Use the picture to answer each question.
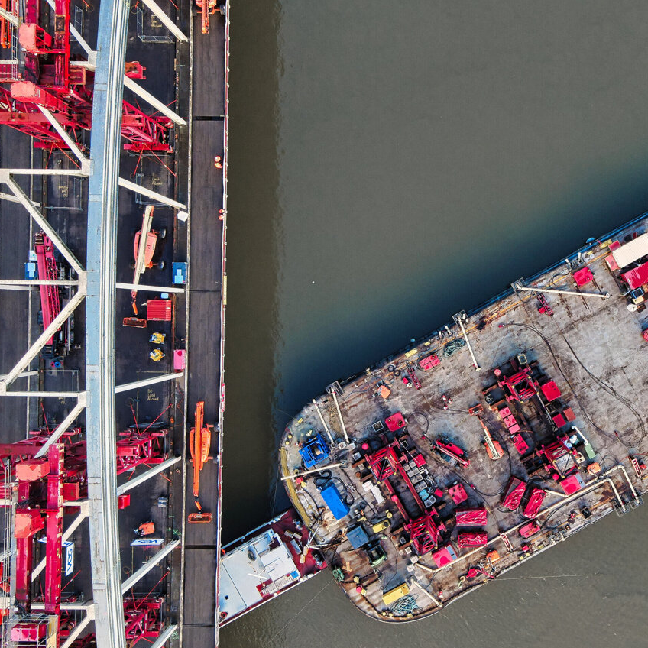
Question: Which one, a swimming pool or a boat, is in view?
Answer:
boat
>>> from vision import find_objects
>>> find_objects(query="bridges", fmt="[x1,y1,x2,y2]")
[0,0,233,648]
